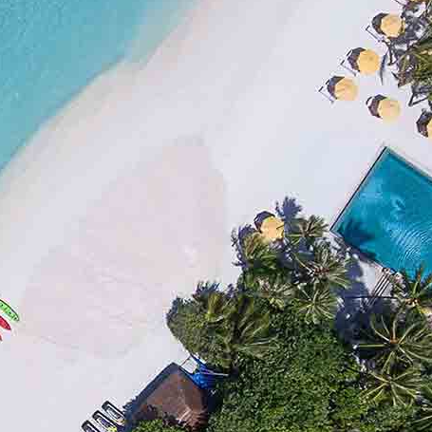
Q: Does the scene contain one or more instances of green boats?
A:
Yes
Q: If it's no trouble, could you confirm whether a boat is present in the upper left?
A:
No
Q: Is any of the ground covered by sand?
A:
Yes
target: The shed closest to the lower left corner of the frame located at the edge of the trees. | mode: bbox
[130,371,212,432]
